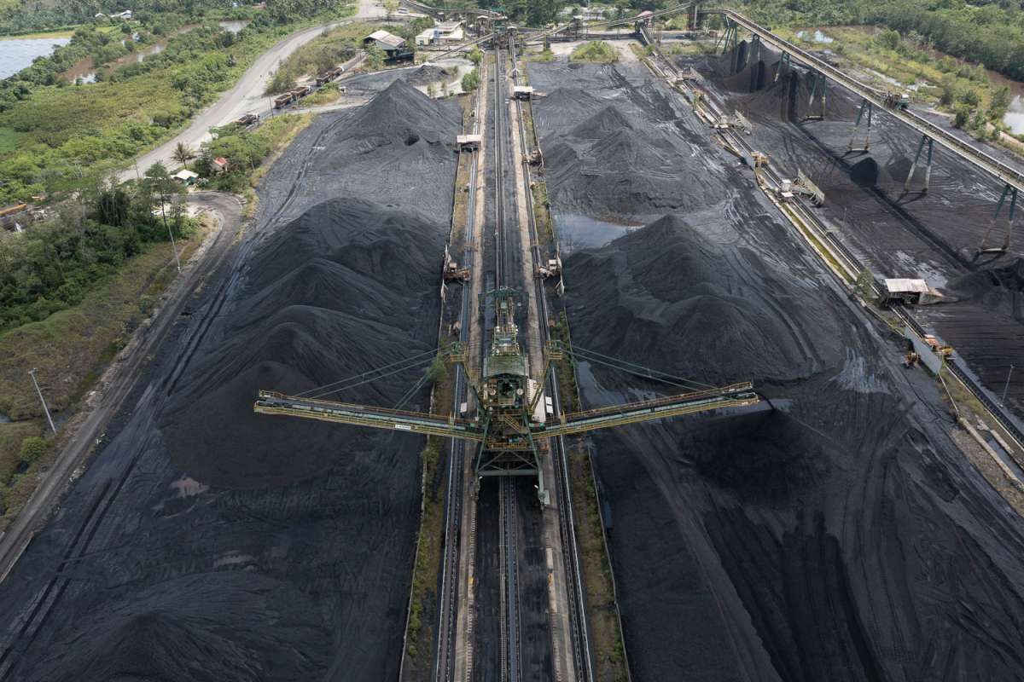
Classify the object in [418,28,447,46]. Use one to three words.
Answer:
building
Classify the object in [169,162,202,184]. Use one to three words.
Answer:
shed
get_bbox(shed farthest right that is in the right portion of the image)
[887,275,968,311]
